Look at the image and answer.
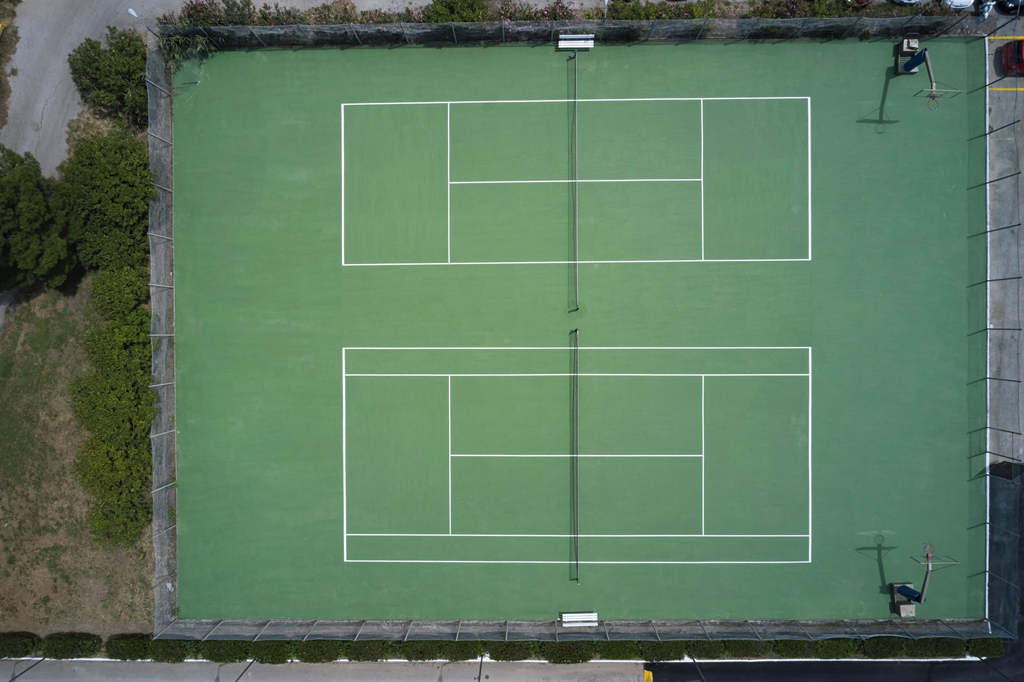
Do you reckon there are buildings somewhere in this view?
No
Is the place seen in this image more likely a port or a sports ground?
sports ground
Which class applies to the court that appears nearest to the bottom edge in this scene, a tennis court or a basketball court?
tennis court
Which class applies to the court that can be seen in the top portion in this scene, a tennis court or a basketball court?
tennis court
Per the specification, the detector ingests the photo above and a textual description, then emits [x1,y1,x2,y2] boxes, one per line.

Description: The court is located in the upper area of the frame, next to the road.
[172,37,986,322]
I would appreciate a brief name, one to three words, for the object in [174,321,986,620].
tennis court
